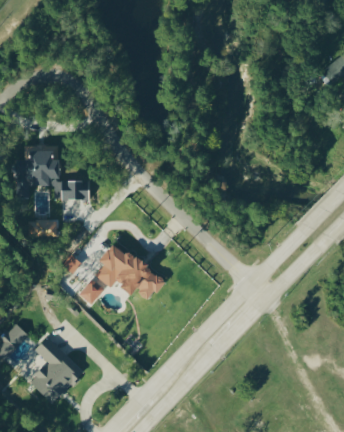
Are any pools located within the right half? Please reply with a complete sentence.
No, there's no pool to be seen within the right half.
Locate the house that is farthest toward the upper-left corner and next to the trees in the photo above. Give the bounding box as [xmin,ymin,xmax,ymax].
[28,150,62,193]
